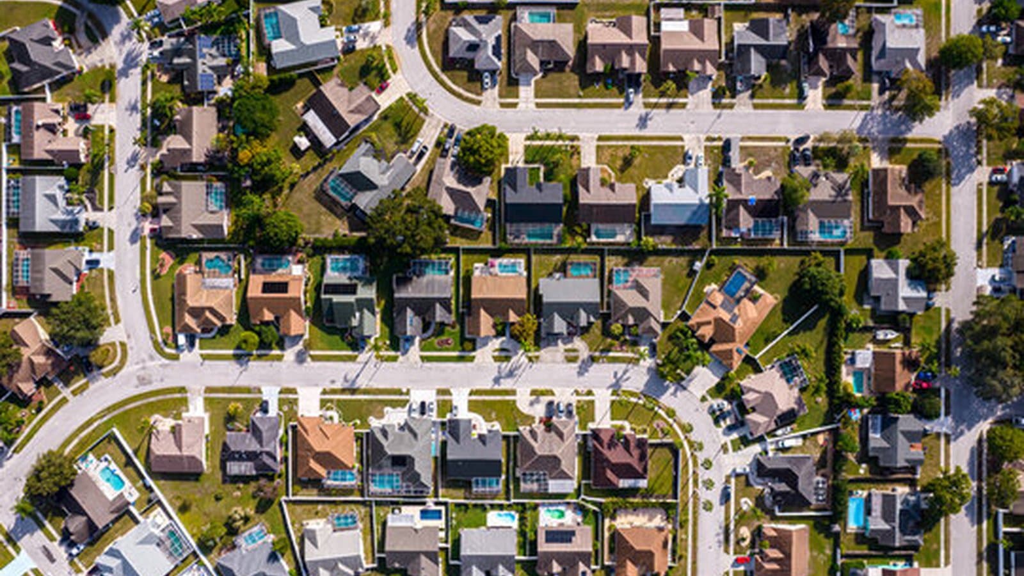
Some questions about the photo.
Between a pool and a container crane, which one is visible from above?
pool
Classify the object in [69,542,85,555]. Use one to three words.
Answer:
vehicle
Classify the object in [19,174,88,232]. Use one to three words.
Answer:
house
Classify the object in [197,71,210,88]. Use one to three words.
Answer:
solar panel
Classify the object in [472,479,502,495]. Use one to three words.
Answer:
swimming pool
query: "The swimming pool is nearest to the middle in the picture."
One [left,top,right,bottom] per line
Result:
[489,258,525,275]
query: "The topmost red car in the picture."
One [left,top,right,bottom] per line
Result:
[375,81,390,95]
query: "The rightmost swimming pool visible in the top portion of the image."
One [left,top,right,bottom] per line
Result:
[892,9,923,23]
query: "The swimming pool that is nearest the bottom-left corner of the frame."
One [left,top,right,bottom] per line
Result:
[85,455,131,497]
